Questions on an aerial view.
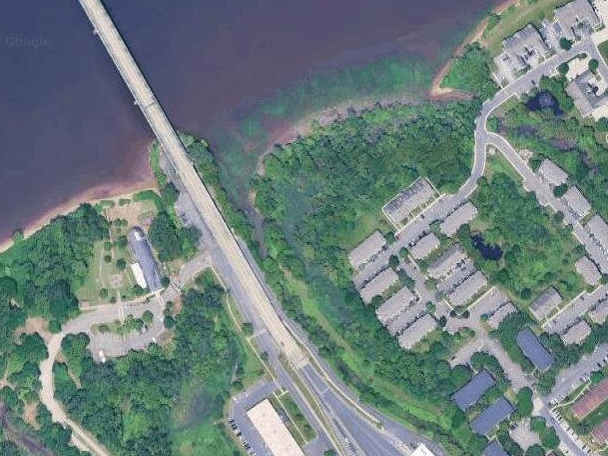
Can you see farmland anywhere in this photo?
No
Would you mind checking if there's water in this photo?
Yes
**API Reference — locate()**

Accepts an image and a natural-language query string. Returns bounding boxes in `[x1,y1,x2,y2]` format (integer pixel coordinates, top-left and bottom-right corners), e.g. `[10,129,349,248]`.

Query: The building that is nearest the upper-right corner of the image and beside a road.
[554,0,600,40]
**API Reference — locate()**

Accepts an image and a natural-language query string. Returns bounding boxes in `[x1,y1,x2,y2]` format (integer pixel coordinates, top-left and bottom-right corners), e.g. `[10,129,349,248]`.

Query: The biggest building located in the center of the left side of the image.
[133,228,163,291]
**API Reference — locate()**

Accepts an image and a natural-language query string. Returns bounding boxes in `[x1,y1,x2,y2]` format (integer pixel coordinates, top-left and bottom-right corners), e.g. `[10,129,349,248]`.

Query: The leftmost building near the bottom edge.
[246,398,304,456]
